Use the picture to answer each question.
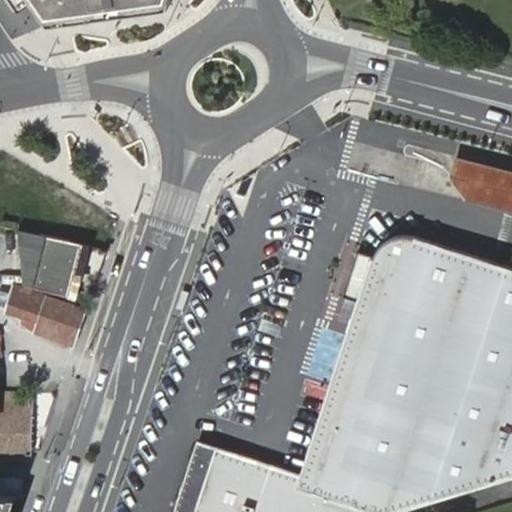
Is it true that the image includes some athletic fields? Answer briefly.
No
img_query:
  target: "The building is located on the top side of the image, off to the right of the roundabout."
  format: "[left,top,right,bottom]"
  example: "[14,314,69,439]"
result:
[450,158,512,214]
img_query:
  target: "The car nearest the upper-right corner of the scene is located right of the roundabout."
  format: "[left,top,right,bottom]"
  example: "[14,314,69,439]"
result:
[486,109,511,123]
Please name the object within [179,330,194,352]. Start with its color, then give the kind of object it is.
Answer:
white car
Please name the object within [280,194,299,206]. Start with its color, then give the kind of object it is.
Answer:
white vehicle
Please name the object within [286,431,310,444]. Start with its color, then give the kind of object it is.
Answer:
white vehicle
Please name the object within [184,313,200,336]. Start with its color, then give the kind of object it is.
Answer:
white car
